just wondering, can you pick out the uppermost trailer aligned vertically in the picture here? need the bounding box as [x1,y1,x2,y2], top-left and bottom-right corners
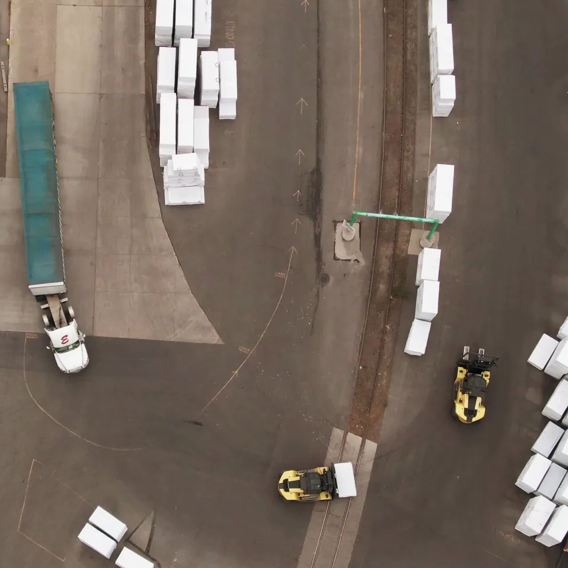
[14,80,68,296]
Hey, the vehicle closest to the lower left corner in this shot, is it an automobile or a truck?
truck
